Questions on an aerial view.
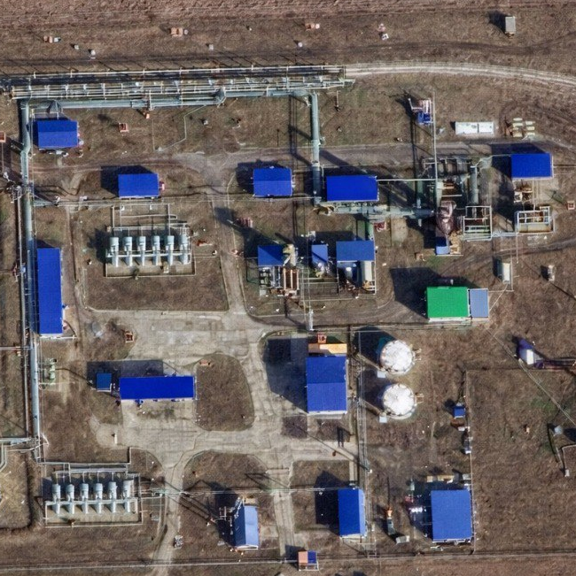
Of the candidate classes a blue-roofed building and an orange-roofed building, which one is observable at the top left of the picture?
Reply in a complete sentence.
Visible at the top left of the picture is a blue-roofed building.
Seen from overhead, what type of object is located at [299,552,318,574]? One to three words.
shed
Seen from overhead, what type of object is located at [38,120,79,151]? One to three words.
building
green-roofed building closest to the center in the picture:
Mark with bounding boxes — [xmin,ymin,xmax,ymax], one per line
[426,287,469,325]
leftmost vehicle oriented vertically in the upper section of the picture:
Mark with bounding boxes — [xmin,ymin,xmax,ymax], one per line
[413,92,431,125]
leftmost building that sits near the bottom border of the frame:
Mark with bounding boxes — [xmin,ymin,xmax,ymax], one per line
[234,504,259,551]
